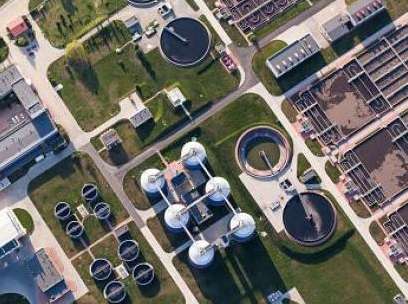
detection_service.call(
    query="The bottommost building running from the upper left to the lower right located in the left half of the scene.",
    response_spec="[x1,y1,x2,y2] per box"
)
[33,248,64,285]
